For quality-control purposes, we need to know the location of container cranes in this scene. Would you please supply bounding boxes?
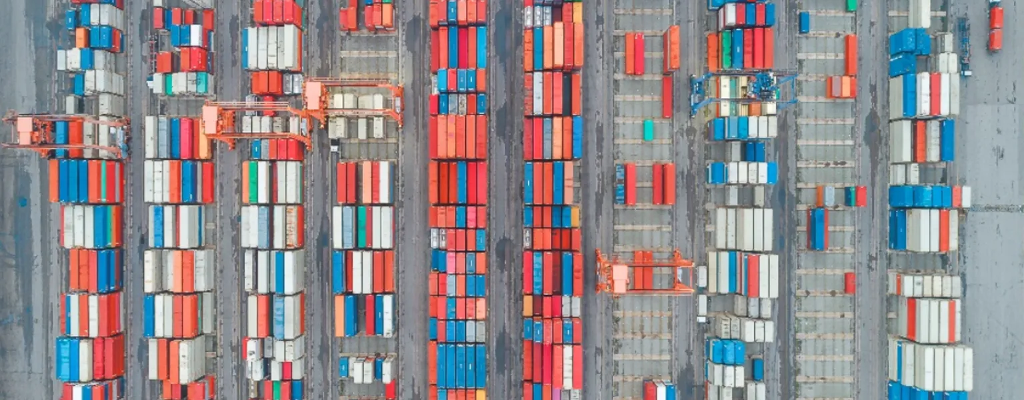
[0,112,129,160]
[689,67,799,118]
[594,249,694,298]
[301,78,405,129]
[201,101,312,150]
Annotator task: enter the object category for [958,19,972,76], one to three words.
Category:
vehicle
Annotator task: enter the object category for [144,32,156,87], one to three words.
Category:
vehicle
